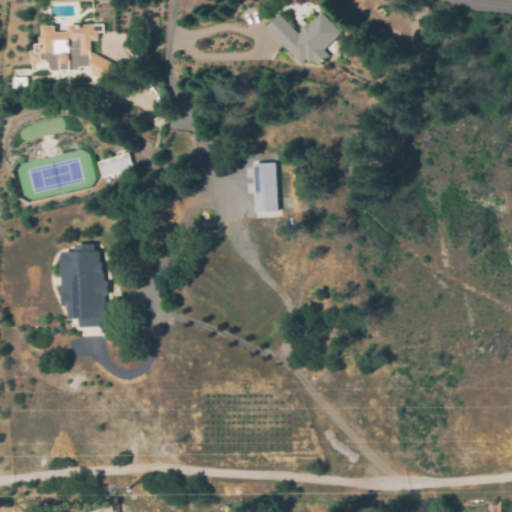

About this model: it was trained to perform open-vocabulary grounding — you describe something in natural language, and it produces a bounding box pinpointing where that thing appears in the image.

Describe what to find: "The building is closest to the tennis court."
[98,154,132,176]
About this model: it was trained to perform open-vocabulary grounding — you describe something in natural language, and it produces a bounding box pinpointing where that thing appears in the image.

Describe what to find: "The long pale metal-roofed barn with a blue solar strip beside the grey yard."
[254,160,283,216]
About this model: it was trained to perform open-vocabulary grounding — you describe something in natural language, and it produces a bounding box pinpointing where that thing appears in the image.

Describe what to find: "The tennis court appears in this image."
[19,150,97,200]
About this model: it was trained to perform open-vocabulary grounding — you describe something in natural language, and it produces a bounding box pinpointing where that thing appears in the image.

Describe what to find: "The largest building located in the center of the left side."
[60,244,107,326]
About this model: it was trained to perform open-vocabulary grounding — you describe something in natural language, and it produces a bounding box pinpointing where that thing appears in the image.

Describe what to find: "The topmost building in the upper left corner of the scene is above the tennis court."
[29,23,112,76]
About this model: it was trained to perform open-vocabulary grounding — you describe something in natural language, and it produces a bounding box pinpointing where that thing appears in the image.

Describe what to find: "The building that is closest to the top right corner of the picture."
[266,13,339,62]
